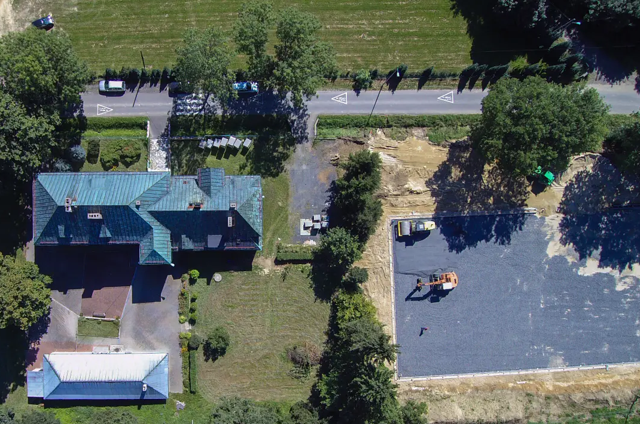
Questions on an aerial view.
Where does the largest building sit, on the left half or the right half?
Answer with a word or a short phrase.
left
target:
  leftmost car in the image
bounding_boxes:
[30,15,55,29]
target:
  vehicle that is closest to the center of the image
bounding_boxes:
[401,220,434,235]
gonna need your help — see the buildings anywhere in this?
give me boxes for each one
[34,168,265,266]
[28,345,169,401]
